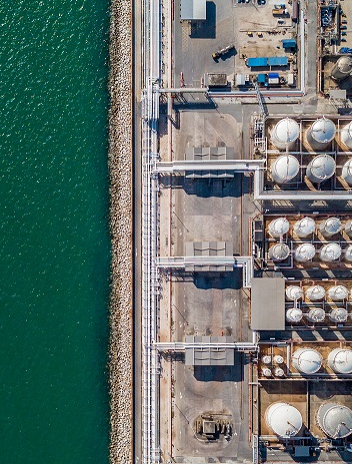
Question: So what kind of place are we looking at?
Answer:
industrial area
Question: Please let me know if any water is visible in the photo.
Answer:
Yes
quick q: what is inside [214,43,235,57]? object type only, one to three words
vehicle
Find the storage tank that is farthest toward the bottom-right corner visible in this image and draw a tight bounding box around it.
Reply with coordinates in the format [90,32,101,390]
[317,398,352,438]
